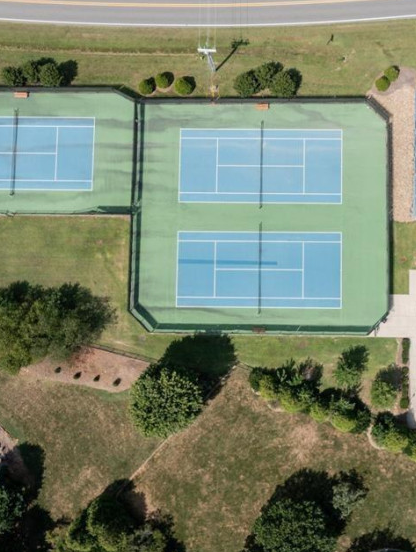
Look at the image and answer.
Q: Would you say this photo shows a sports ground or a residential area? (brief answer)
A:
sports ground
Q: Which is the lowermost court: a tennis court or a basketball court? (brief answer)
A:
tennis court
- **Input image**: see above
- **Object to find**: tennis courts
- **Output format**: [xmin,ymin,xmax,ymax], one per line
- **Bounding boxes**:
[135,217,389,334]
[136,103,389,217]
[0,92,134,214]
